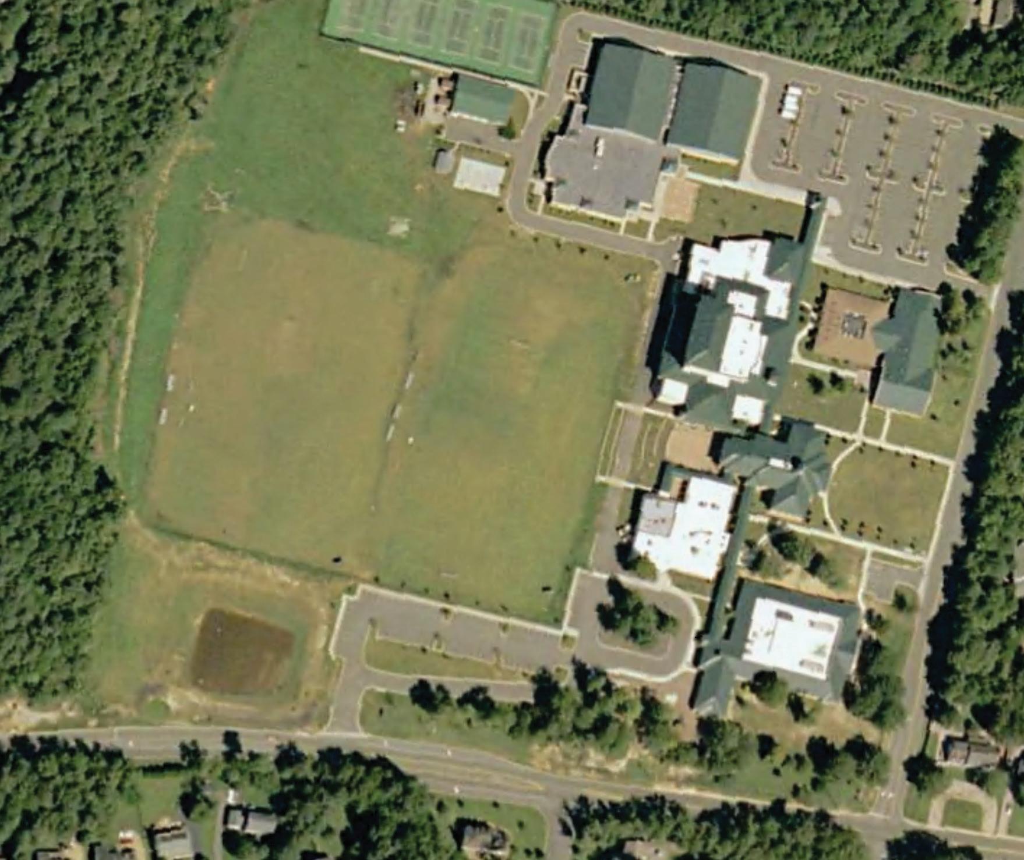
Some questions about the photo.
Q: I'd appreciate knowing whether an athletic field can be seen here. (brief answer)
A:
Yes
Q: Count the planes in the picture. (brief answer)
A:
0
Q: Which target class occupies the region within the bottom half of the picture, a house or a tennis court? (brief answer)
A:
house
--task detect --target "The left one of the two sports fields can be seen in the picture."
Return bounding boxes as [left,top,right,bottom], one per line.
[145,214,423,573]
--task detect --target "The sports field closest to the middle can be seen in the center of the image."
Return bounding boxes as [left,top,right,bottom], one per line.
[372,234,649,617]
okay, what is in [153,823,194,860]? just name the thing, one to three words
house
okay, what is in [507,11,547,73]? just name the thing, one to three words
tennis court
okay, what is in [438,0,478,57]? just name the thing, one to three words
tennis court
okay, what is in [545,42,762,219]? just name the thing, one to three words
building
